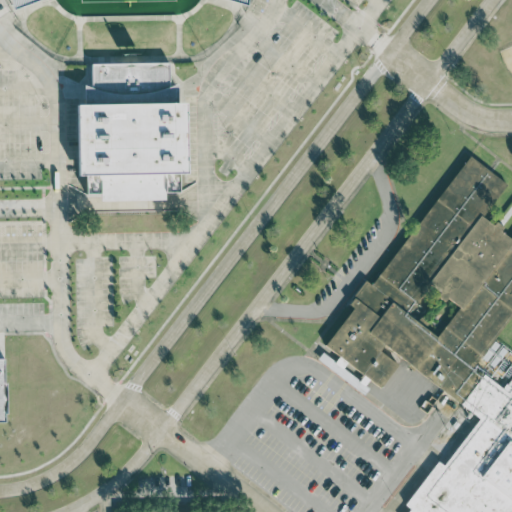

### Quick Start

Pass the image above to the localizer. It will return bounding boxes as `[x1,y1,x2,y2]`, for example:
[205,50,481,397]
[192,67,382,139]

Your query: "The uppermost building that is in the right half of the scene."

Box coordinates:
[325,156,512,403]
